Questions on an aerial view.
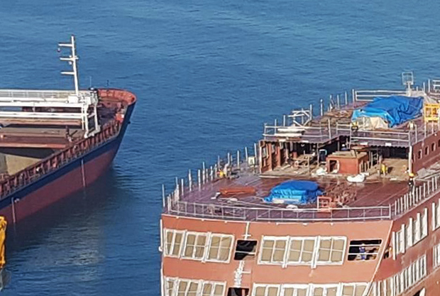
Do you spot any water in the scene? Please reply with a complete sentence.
Yes, water can be seen from above here.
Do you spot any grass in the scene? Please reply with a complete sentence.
No, the scene doesn't show any grass.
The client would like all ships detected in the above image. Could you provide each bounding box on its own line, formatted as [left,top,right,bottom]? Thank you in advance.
[0,36,128,250]
[158,69,440,296]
